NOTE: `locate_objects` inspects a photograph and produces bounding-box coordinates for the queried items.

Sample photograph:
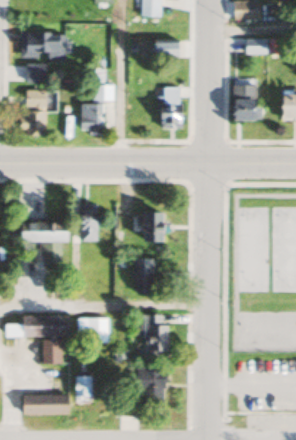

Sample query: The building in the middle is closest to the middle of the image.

[141,212,170,248]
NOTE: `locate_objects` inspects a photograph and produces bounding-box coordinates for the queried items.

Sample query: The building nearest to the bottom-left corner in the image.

[23,394,70,416]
